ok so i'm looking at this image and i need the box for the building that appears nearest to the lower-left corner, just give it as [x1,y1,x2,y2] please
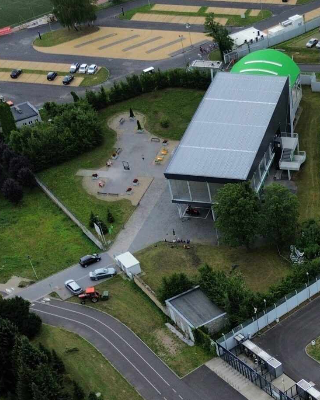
[115,251,142,280]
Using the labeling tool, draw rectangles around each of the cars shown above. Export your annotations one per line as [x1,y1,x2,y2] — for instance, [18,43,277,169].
[46,70,59,81]
[68,62,81,73]
[88,269,112,281]
[78,63,90,73]
[61,74,75,84]
[307,39,318,47]
[78,254,102,268]
[66,280,83,295]
[10,69,23,79]
[87,64,98,74]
